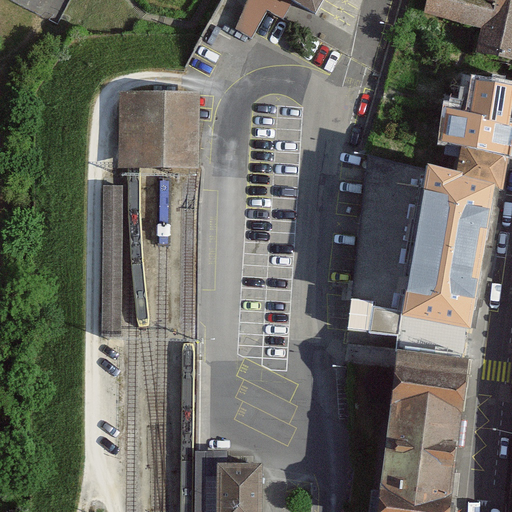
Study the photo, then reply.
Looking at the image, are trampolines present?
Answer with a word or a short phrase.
No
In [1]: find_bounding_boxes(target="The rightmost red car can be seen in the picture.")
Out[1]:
[356,93,371,116]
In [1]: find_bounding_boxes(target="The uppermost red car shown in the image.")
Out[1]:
[314,45,330,67]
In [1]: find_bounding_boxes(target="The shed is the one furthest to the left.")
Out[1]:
[102,185,124,335]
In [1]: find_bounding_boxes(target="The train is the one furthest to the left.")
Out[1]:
[127,168,149,328]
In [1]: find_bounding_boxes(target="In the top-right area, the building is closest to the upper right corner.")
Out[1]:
[424,0,512,60]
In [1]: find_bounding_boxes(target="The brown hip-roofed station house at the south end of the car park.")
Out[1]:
[216,462,264,512]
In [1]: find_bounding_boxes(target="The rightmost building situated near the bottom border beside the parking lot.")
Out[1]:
[378,348,470,512]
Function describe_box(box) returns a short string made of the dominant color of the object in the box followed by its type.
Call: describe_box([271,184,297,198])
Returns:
gray vehicle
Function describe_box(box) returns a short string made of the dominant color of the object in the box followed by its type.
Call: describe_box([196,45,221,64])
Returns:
white vehicle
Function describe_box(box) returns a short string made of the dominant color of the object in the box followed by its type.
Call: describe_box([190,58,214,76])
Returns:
blue vehicle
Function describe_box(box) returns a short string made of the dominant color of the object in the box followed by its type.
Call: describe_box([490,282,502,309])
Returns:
white vehicle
